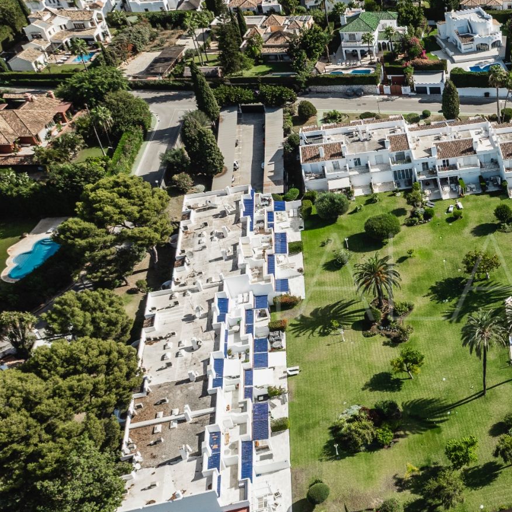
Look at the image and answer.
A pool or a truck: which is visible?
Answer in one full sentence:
Of the two, only a pool appears.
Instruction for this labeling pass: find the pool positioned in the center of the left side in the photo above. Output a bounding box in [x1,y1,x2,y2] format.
[2,229,66,280]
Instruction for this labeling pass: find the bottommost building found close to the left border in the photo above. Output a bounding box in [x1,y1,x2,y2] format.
[0,88,92,174]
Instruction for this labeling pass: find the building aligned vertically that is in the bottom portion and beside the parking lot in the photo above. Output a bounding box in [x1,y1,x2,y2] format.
[117,184,303,512]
